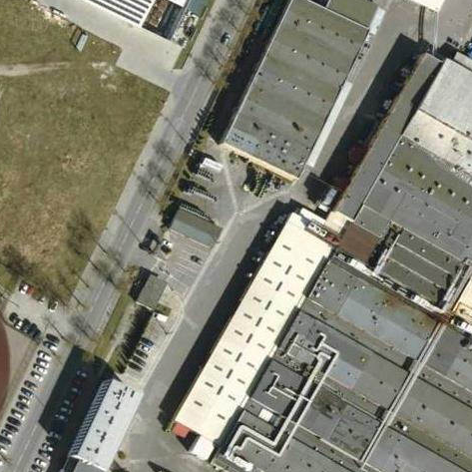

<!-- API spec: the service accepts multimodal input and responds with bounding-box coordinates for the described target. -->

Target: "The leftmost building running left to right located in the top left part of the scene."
[83,0,156,30]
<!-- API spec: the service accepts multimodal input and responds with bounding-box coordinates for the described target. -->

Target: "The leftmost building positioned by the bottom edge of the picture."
[68,379,145,472]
